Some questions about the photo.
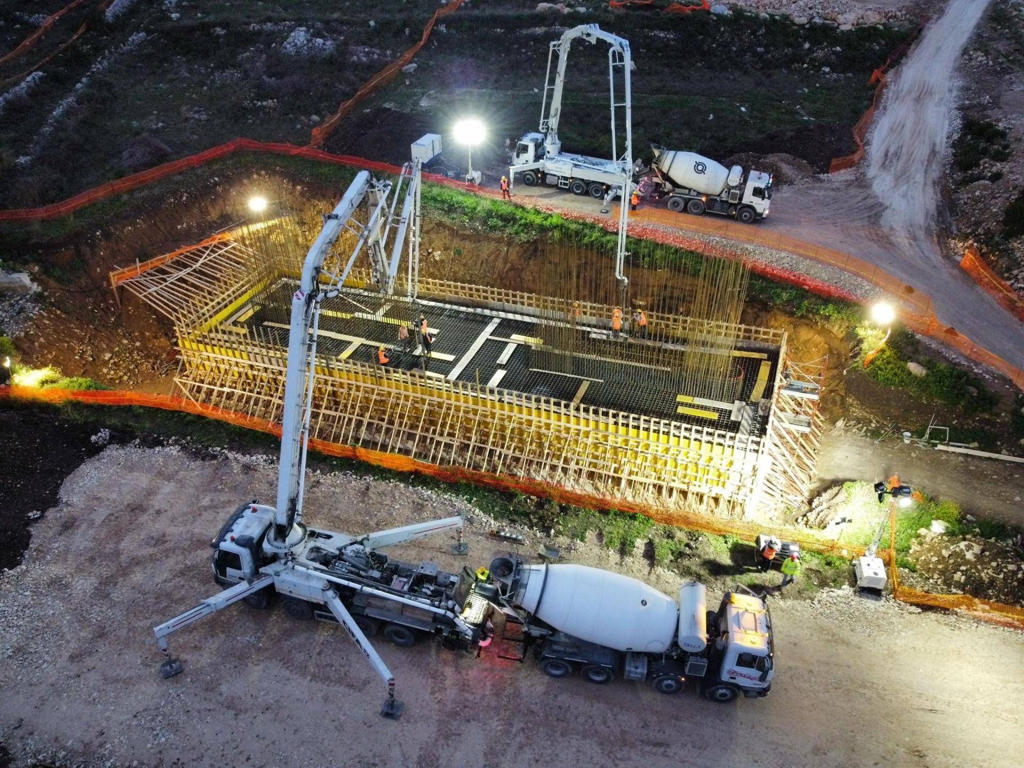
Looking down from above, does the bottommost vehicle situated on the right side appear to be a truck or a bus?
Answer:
truck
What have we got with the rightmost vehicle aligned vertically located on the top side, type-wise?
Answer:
truck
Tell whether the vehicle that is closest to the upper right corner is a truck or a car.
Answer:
truck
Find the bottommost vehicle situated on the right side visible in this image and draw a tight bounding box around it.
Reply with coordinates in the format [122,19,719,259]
[474,551,791,703]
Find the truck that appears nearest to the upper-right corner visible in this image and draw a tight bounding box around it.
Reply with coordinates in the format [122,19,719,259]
[640,141,784,222]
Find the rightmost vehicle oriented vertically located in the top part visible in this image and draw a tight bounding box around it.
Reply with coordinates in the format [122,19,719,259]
[507,23,639,332]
